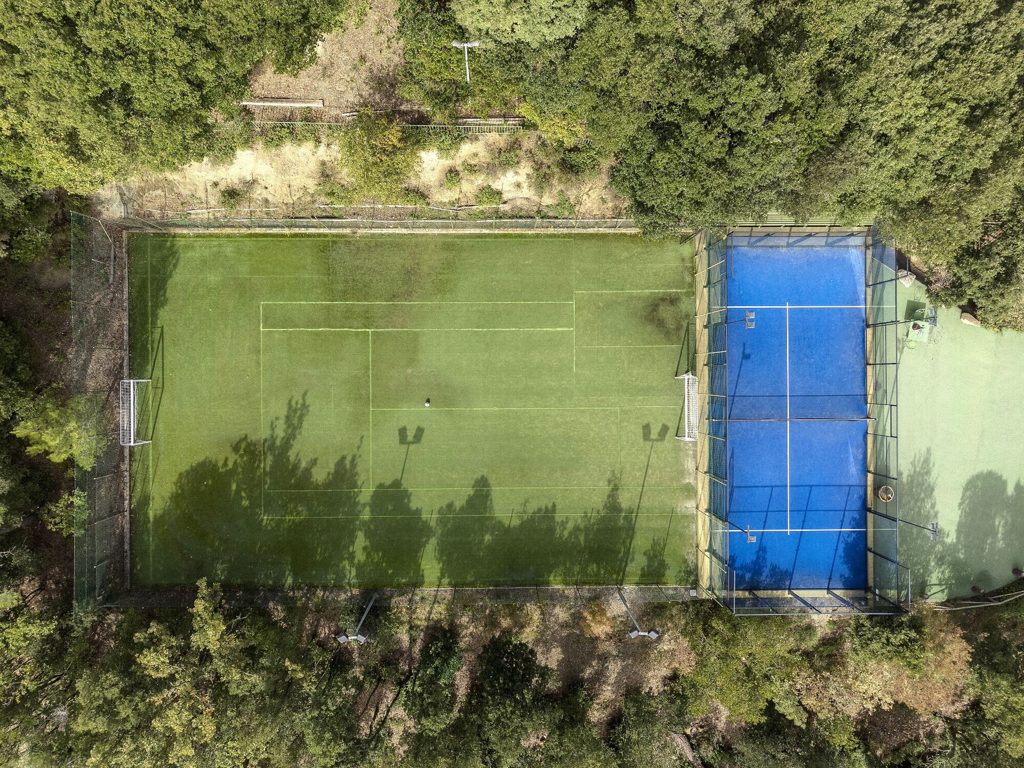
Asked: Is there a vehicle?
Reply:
No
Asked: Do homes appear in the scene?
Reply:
No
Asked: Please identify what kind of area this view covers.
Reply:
sports ground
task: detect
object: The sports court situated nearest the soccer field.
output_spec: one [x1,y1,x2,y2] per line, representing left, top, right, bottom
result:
[696,226,876,599]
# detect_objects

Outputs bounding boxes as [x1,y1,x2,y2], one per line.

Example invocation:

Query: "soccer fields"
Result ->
[123,225,696,591]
